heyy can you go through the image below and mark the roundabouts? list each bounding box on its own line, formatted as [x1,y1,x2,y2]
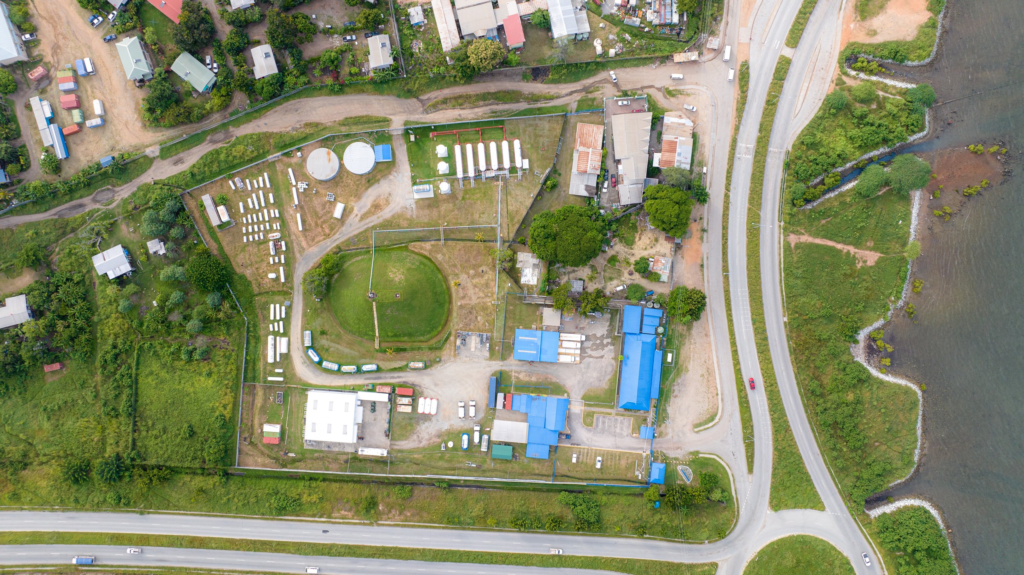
[715,508,881,575]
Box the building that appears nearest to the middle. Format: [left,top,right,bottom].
[517,252,539,285]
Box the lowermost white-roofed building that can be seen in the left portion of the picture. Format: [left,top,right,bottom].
[304,388,389,443]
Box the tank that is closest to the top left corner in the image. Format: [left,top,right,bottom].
[306,147,341,181]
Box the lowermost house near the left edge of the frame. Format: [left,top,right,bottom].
[0,295,35,326]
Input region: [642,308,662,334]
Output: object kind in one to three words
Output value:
building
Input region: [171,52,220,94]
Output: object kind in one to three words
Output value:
house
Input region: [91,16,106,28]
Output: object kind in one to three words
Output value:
vehicle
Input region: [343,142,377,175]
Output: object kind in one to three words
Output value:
water tank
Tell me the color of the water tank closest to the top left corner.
white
